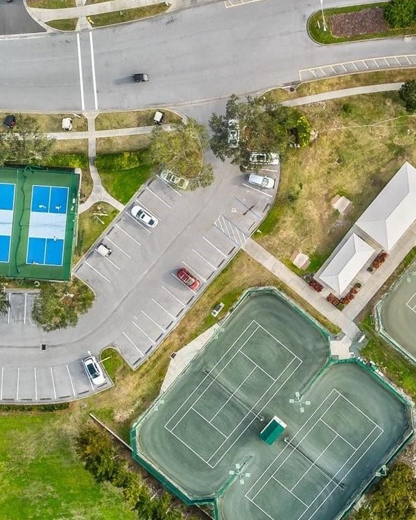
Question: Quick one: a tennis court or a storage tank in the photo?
tennis court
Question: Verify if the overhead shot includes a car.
Yes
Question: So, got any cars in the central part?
Yes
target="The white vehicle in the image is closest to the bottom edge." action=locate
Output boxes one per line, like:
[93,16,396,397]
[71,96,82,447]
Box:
[86,356,105,384]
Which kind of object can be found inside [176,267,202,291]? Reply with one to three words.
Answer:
car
